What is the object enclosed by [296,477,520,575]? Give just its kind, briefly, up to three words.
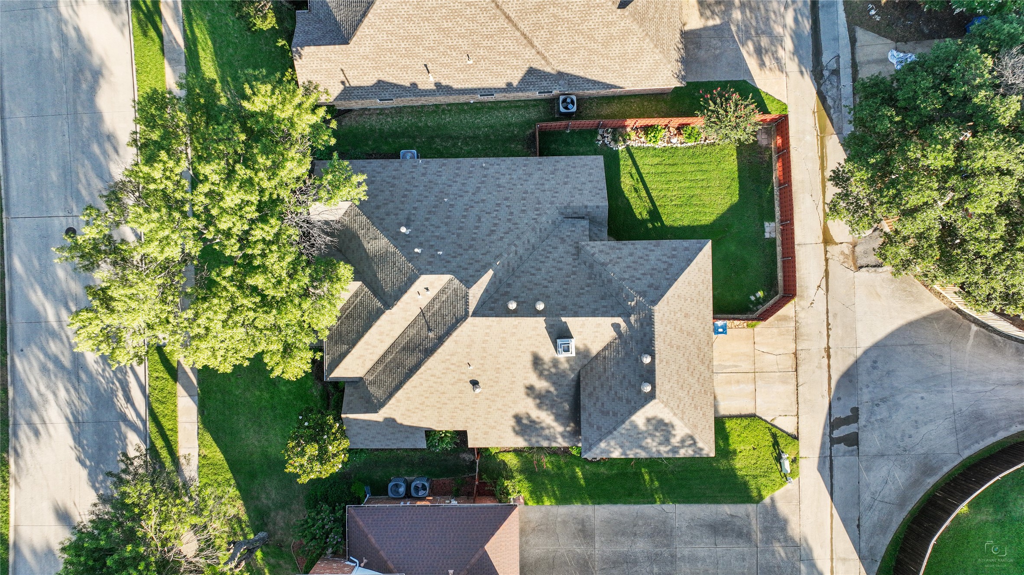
house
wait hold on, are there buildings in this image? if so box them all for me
[296,477,520,575]
[309,155,717,460]
[291,0,688,109]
